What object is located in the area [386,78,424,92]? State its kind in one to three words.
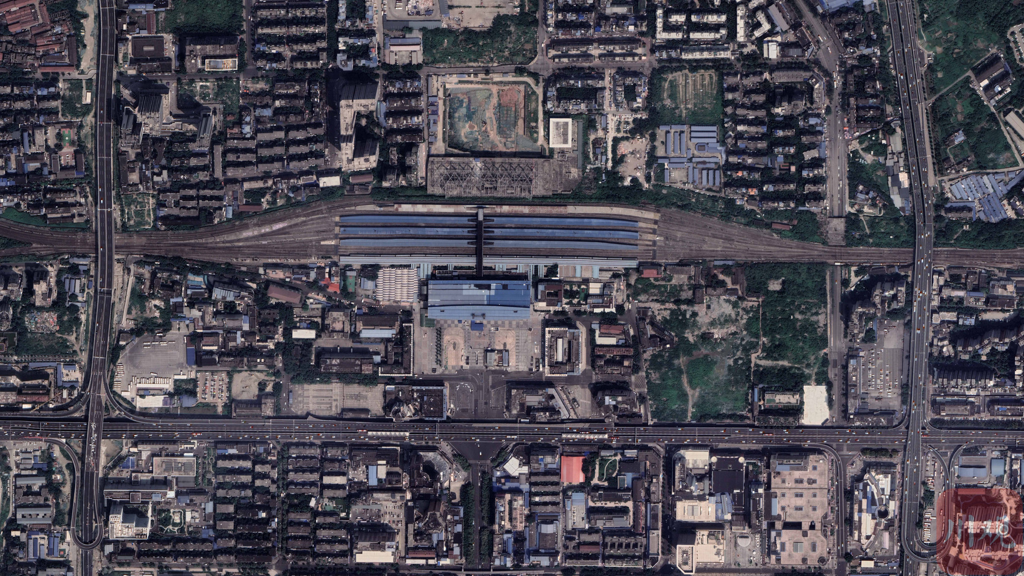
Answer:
building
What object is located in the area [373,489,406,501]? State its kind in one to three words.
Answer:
building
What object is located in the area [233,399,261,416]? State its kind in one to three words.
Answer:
shed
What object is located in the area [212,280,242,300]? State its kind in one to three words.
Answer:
shed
